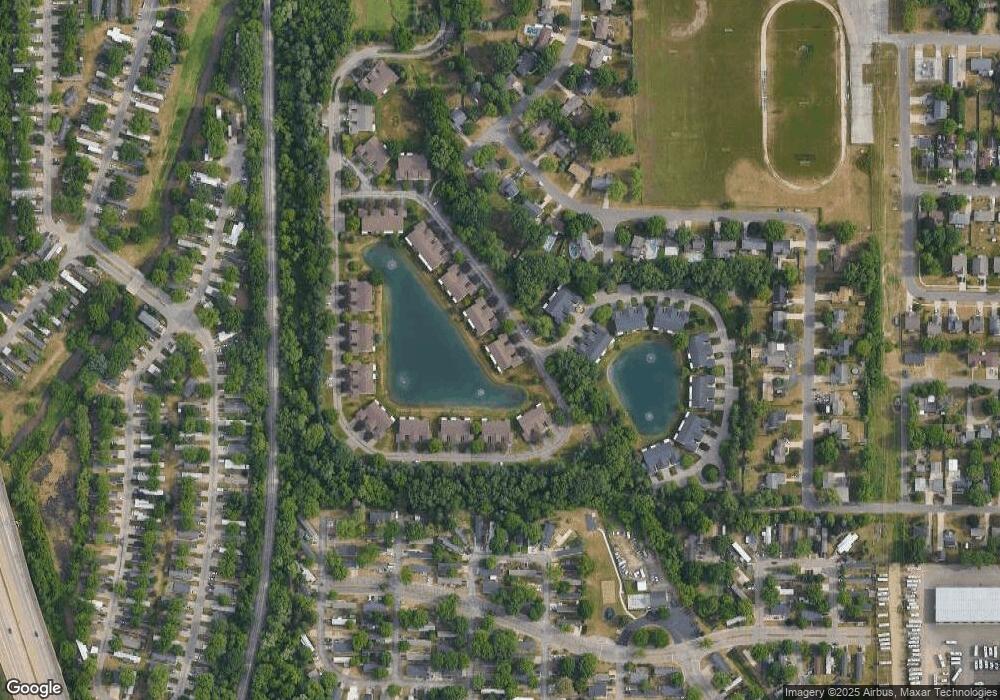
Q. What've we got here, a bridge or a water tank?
bridge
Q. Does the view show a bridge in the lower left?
No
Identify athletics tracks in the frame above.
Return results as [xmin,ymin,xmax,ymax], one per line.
[762,0,846,190]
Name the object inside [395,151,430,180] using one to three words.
house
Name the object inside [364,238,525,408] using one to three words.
pond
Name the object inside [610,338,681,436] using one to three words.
pond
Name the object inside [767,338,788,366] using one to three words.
house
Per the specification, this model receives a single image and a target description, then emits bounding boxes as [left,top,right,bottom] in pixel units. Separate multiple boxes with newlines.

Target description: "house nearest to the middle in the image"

[485,333,523,374]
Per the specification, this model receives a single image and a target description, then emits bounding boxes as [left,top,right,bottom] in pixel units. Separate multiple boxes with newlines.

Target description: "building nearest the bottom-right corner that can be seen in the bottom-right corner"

[936,588,1000,623]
